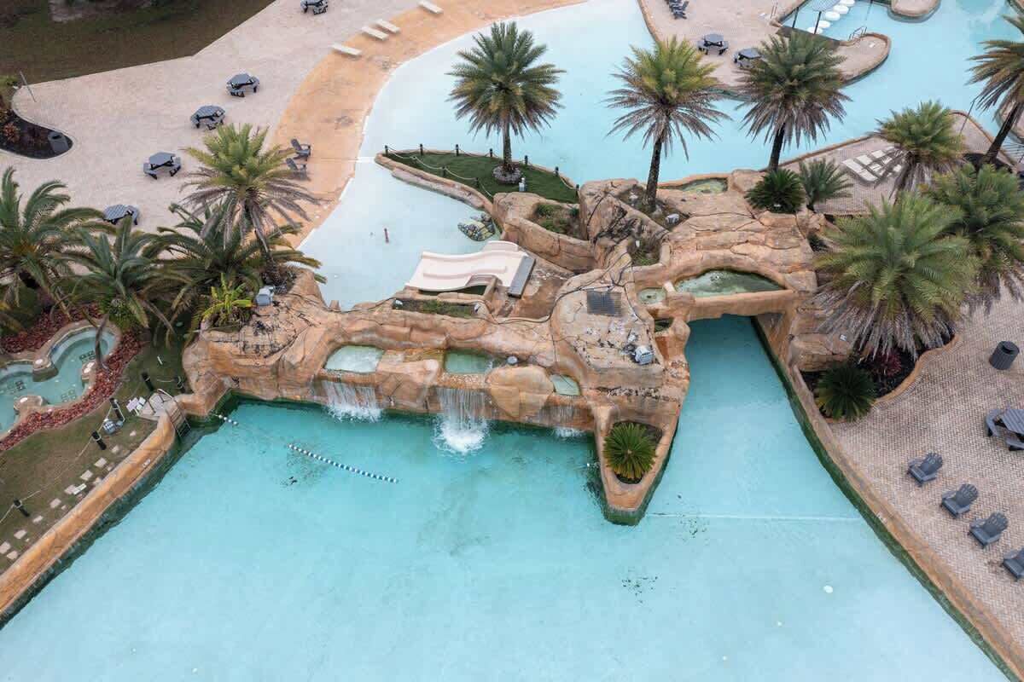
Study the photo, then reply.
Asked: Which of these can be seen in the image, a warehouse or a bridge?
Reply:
bridge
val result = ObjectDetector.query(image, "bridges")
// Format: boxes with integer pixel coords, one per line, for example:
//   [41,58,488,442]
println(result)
[636,169,830,330]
